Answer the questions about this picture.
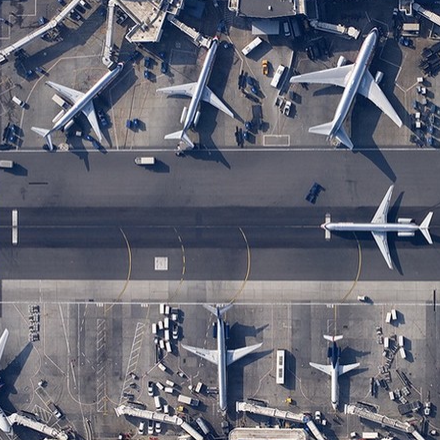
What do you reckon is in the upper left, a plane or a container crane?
plane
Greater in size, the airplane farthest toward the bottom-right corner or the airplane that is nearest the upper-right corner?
the airplane that is nearest the upper-right corner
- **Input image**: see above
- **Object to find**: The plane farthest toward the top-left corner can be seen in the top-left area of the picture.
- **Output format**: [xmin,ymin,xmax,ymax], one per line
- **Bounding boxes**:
[28,64,123,151]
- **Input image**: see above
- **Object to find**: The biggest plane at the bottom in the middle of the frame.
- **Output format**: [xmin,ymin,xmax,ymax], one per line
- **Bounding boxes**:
[178,300,261,413]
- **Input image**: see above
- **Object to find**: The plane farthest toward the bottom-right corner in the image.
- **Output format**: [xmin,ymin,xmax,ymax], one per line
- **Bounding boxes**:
[308,334,361,408]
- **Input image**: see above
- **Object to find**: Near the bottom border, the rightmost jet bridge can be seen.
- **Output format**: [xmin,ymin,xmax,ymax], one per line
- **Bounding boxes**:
[343,403,427,440]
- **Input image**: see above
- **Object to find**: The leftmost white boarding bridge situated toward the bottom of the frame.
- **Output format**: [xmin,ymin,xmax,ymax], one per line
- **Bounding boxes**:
[4,413,70,440]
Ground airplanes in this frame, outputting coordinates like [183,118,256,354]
[321,186,434,268]
[178,300,261,413]
[28,64,123,151]
[152,40,231,149]
[308,334,361,408]
[291,27,402,149]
